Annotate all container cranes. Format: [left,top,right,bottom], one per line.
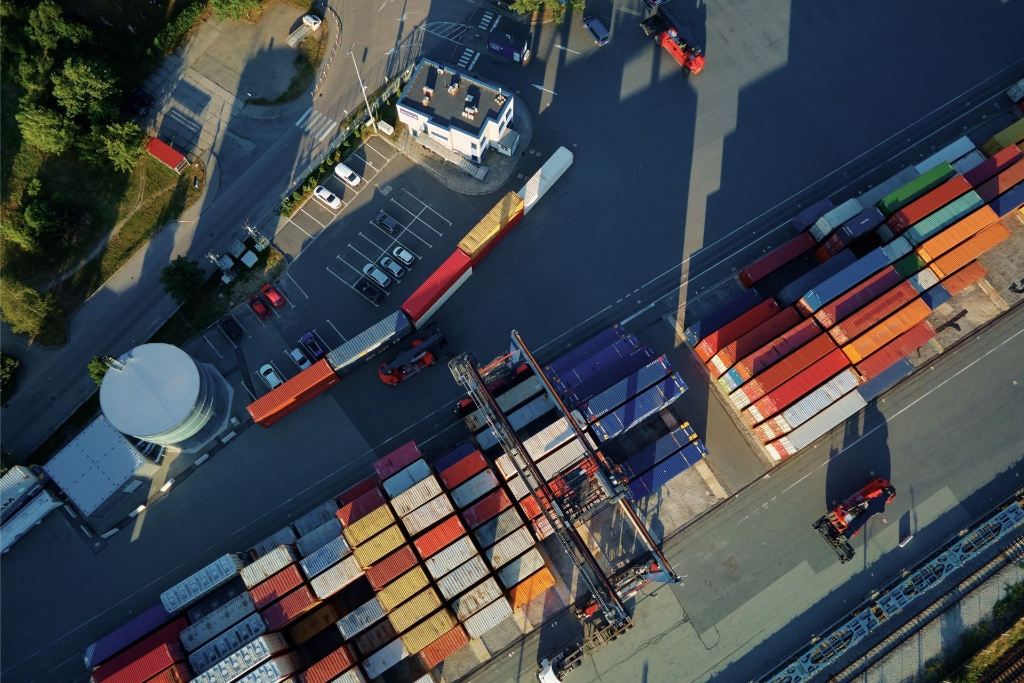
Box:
[441,328,689,626]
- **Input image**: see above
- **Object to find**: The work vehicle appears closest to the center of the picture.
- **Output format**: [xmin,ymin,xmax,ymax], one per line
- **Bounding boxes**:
[380,317,462,388]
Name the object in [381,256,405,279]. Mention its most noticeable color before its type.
blue car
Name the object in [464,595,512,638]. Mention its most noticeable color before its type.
white shipping container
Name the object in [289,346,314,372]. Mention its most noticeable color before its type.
blue car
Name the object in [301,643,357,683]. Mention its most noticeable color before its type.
red shipping container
